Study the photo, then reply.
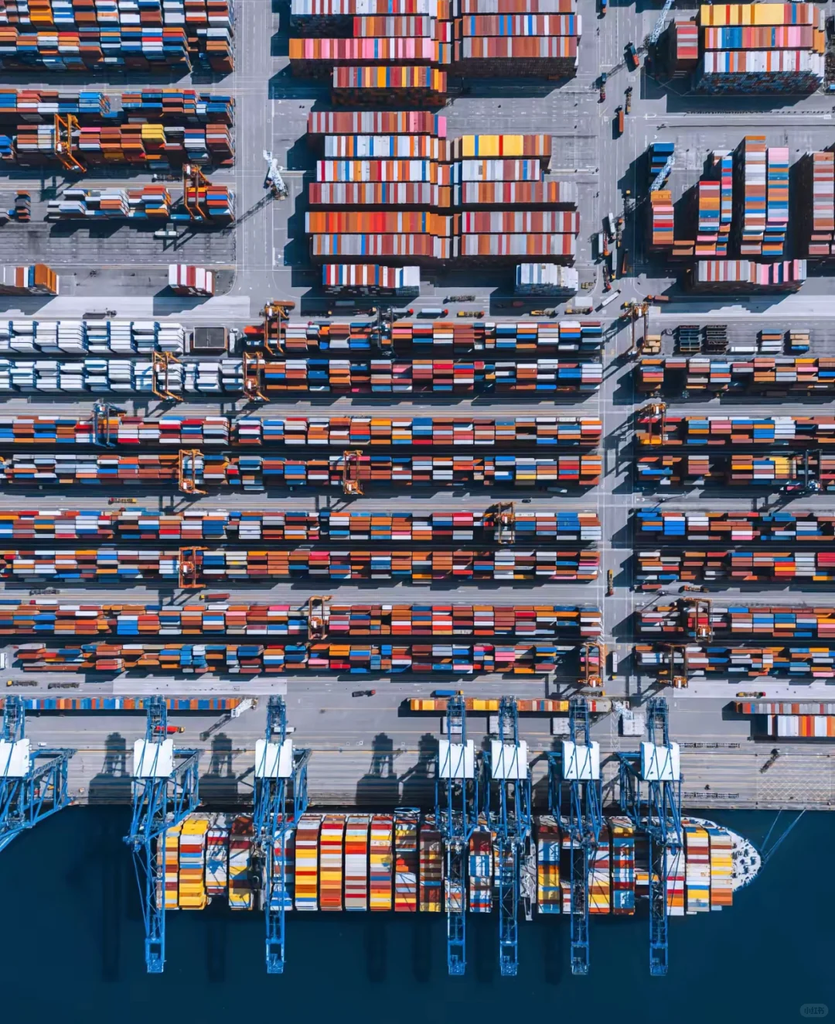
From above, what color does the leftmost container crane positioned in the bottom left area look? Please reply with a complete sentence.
The leftmost container crane positioned in the bottom left area looks blue in the image.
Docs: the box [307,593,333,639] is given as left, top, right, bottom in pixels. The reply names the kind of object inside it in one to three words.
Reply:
container crane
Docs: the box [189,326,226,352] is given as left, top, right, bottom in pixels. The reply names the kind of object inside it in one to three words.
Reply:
shed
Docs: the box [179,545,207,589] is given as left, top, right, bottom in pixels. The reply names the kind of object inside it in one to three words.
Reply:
container crane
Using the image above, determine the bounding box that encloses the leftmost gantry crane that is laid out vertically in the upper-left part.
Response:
[54,115,89,177]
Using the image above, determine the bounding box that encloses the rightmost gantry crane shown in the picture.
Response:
[785,450,824,494]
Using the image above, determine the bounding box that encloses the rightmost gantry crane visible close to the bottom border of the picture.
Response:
[610,693,692,975]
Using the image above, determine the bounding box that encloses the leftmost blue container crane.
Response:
[0,693,79,867]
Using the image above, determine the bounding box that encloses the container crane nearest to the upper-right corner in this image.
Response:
[619,305,652,358]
